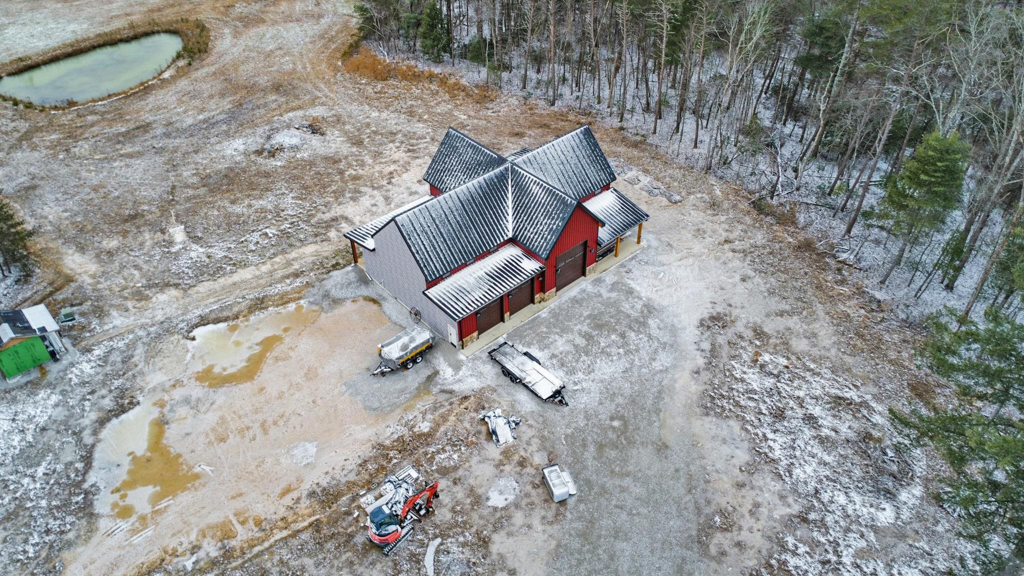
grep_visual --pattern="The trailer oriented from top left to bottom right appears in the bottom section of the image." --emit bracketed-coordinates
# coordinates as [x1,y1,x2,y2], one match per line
[487,342,569,406]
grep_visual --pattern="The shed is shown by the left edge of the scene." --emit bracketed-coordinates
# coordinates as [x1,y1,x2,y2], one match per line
[0,302,71,381]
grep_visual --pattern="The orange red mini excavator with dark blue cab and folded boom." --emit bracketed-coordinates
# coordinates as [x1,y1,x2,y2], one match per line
[362,480,442,556]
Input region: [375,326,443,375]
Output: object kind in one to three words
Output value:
trailer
